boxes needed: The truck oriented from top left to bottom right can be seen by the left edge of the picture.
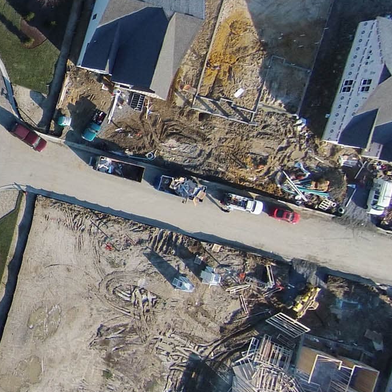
[11,122,49,153]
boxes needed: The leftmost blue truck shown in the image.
[82,108,109,144]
